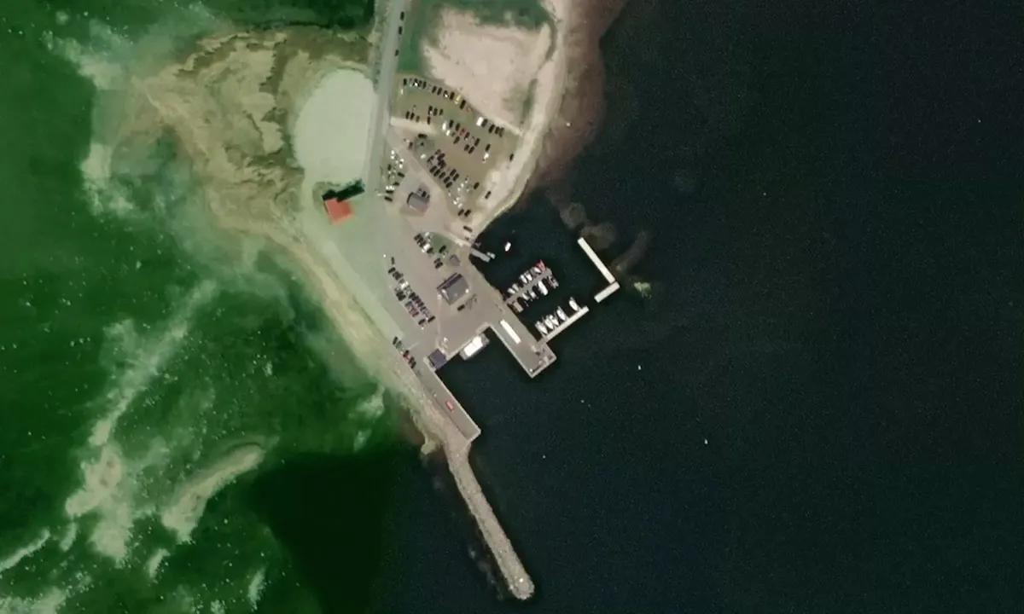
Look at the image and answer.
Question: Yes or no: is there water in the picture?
Yes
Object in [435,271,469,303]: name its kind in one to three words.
building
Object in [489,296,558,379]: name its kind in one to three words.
pier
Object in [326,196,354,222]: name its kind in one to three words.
house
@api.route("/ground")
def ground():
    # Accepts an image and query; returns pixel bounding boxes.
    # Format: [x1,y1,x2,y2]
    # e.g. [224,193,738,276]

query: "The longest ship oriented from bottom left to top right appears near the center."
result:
[459,334,489,360]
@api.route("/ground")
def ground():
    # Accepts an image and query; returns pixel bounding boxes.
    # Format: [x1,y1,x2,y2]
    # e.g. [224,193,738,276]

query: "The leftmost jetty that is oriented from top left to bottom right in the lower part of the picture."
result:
[419,362,482,444]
